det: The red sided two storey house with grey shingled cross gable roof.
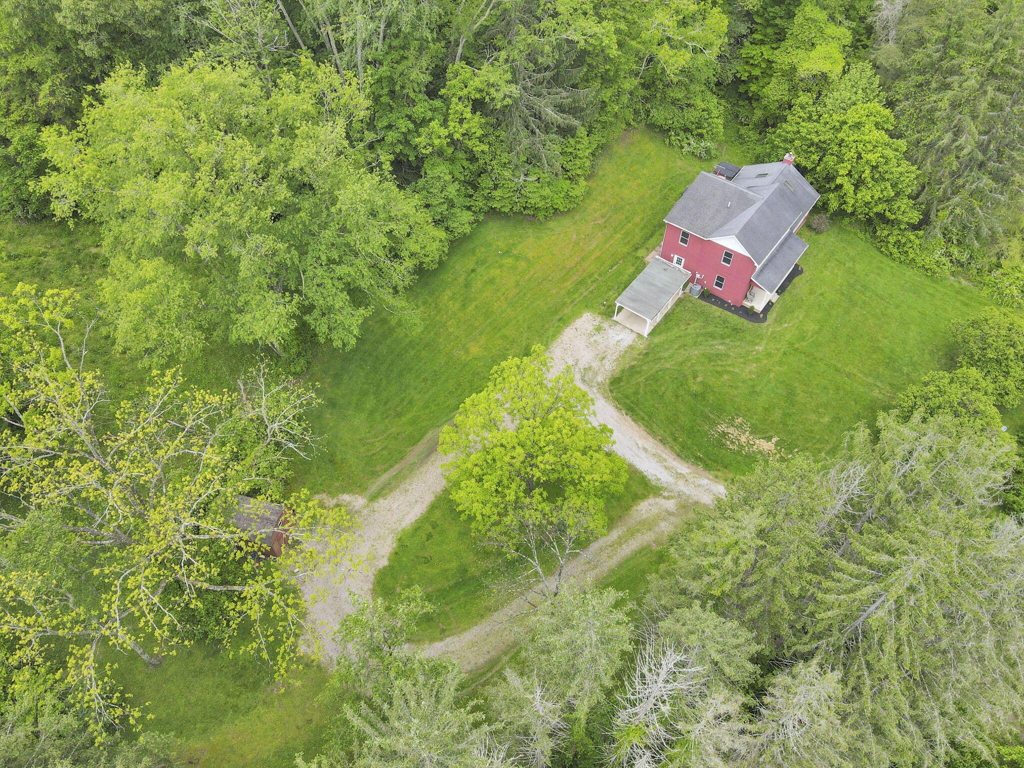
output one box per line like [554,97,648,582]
[659,152,821,312]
